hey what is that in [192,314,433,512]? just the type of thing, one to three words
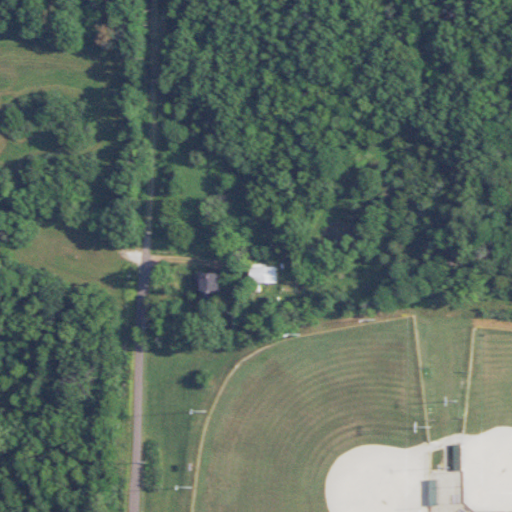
baseball field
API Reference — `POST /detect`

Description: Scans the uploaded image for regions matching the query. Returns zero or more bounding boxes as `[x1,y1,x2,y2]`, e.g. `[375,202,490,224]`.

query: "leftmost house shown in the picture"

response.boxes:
[198,273,220,294]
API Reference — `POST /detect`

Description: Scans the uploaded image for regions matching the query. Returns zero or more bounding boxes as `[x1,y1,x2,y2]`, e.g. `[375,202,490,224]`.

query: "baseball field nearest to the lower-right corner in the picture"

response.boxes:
[460,319,512,512]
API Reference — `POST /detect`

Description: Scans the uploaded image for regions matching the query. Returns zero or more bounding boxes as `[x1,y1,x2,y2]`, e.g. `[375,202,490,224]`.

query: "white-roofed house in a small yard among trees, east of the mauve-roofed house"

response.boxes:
[249,264,278,284]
